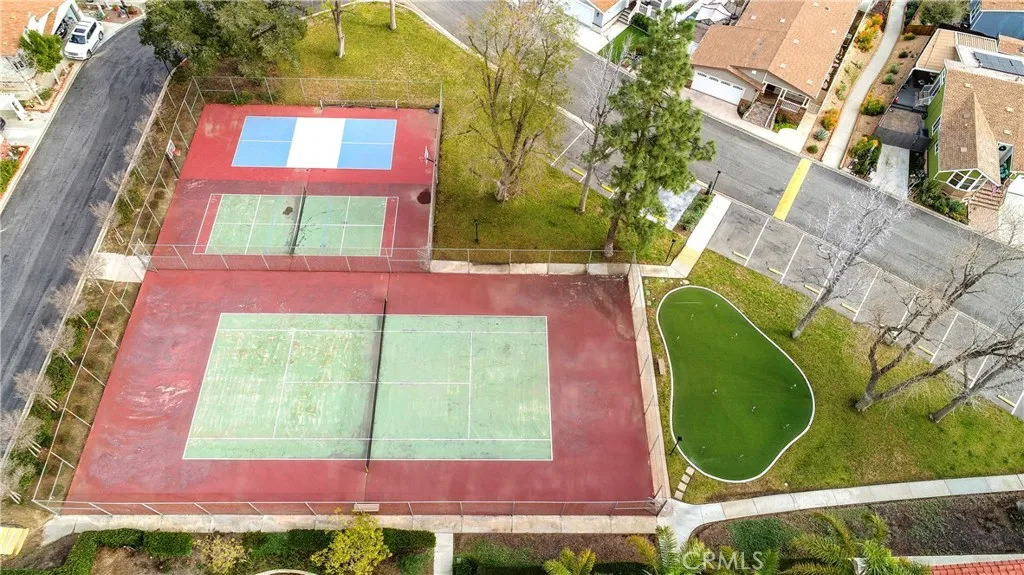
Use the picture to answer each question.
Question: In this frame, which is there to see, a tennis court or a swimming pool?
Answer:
tennis court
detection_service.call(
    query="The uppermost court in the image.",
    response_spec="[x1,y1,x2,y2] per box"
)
[178,103,441,184]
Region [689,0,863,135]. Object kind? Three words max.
house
